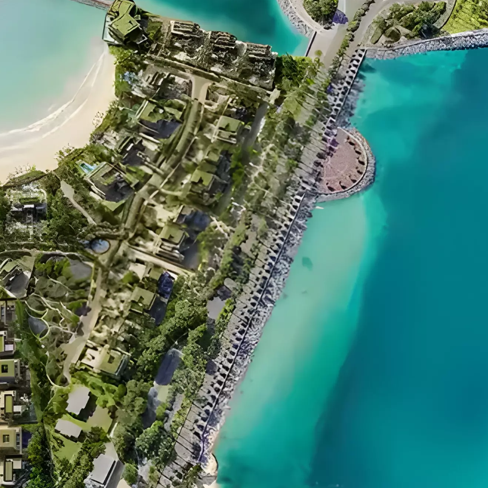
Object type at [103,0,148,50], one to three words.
house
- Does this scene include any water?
Yes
